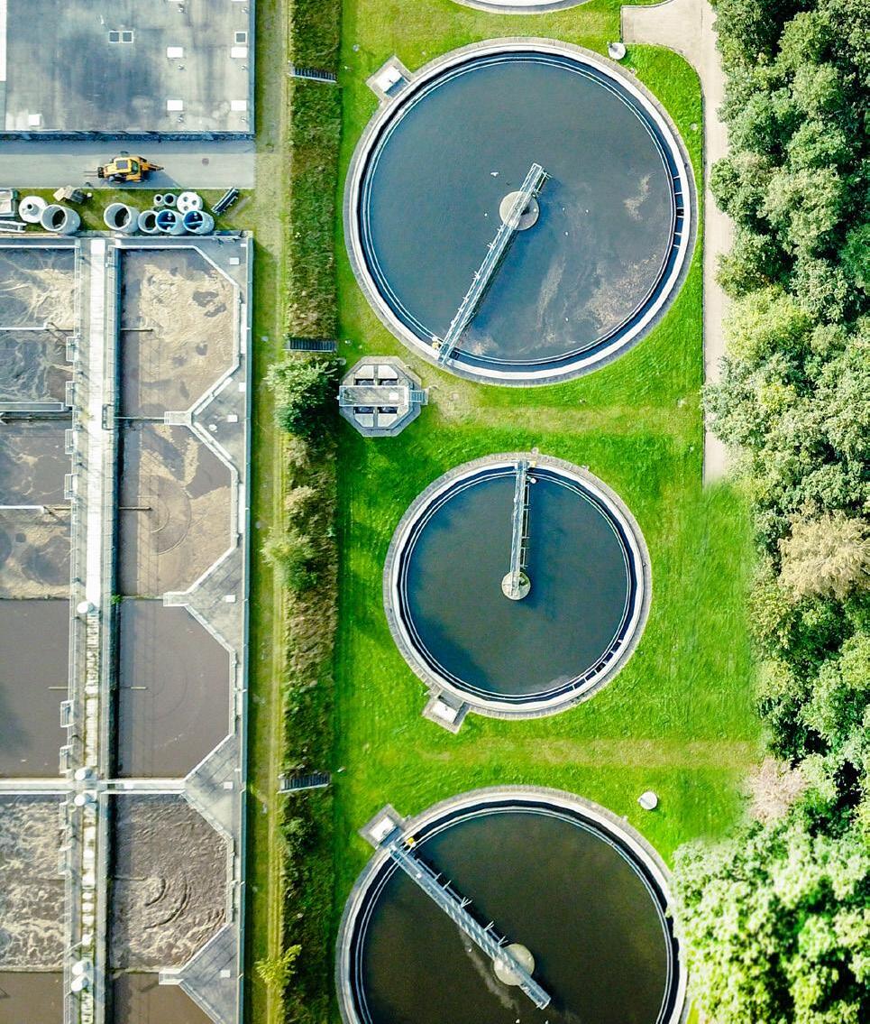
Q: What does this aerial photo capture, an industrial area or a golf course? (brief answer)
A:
industrial area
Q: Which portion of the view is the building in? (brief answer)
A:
top left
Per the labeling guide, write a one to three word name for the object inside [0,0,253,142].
building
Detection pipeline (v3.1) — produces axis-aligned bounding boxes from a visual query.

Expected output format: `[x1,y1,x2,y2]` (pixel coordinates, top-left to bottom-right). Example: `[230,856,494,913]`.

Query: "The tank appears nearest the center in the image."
[383,452,651,720]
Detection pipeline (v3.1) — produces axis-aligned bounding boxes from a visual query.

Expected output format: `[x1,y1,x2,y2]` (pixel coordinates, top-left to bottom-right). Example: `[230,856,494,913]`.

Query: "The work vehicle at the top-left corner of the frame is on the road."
[96,149,165,186]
